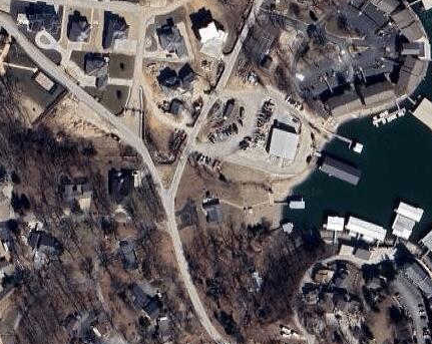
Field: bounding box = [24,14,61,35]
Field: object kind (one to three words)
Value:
house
